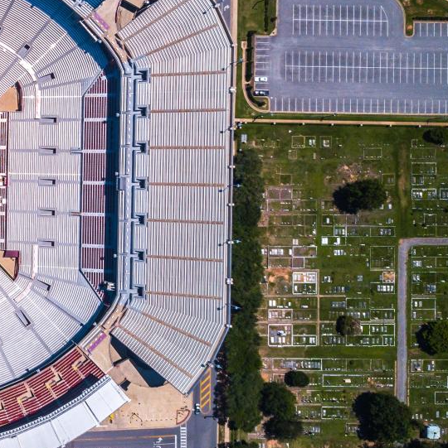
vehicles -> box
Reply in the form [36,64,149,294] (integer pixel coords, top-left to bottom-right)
[253,89,270,96]
[194,402,200,415]
[254,76,267,82]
